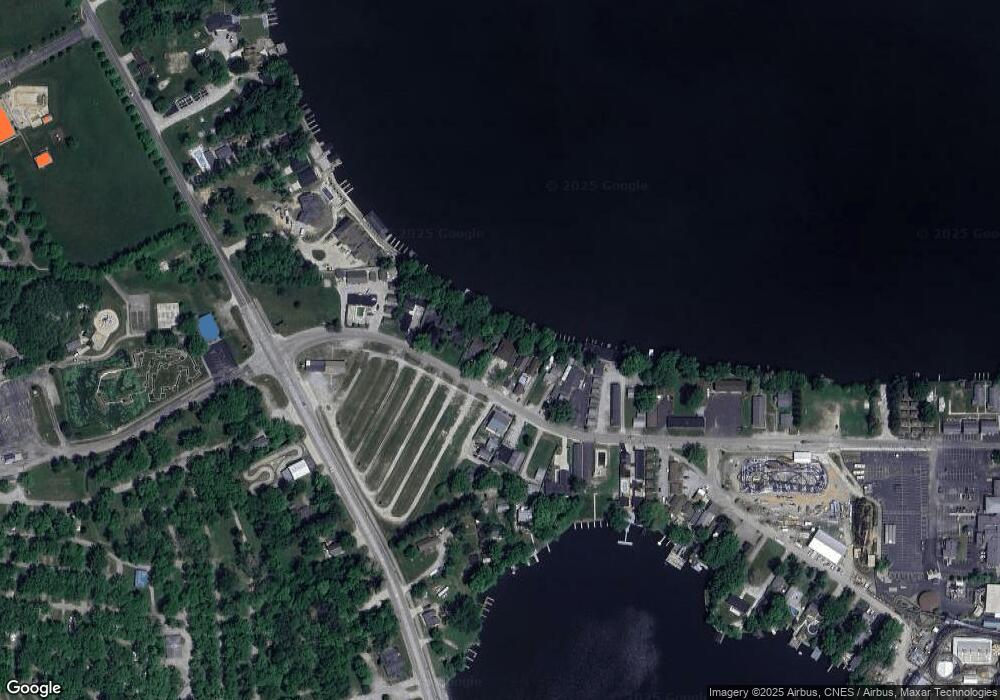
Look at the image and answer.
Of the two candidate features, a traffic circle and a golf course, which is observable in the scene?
golf course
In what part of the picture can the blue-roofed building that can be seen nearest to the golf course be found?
left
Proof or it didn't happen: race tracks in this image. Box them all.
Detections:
[243,444,316,495]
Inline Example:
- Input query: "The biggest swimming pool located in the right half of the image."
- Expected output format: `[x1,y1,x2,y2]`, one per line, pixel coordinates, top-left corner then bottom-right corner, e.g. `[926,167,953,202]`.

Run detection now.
[596,448,608,474]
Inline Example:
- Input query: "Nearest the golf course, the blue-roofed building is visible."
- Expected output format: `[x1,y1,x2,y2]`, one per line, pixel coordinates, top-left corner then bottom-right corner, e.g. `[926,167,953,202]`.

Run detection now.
[197,314,220,341]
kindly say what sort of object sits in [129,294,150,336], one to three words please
tennis court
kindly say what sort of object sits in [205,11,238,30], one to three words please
house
